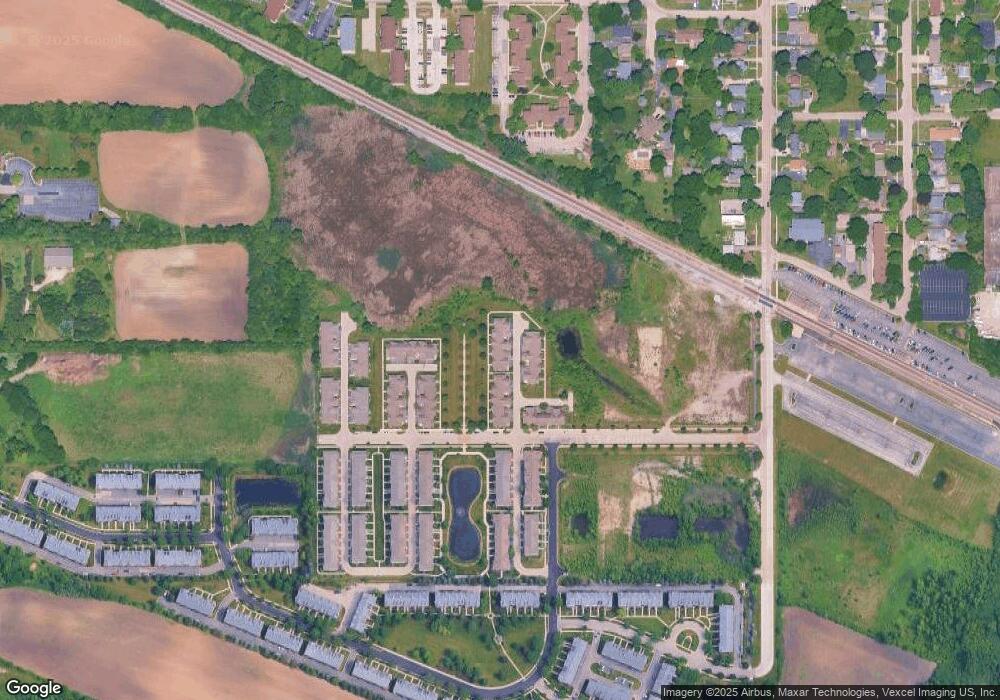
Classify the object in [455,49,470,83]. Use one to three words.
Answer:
building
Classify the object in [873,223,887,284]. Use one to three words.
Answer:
building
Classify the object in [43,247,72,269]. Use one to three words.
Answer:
barn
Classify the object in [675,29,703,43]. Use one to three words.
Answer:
house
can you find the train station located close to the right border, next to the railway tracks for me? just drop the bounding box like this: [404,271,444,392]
[791,306,1000,418]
